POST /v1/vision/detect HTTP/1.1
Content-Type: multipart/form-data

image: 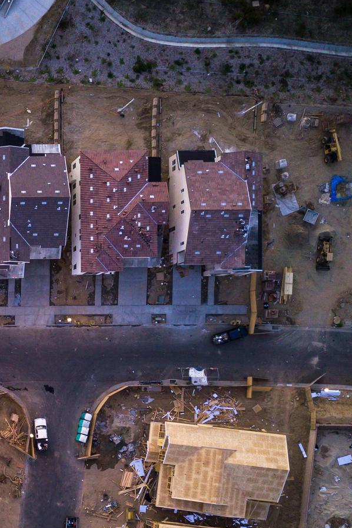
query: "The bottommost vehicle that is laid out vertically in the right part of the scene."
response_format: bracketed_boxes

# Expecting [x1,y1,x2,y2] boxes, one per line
[319,228,340,270]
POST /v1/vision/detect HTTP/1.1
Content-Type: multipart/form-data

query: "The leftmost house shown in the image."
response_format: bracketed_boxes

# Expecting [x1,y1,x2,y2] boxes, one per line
[0,126,72,278]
